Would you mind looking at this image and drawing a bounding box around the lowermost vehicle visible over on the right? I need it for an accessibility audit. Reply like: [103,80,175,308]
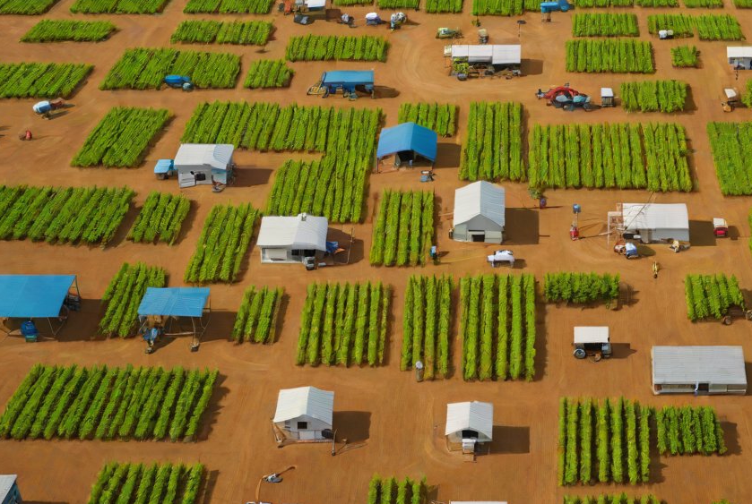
[461,430,480,461]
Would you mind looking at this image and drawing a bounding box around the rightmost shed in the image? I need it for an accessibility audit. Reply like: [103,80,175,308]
[724,45,752,69]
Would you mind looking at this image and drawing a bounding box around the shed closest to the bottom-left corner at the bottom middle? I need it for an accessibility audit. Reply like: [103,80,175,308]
[268,385,343,445]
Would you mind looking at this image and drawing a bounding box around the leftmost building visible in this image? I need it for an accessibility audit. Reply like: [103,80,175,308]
[173,143,236,186]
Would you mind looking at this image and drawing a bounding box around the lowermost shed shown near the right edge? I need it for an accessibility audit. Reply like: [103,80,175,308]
[647,345,749,396]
